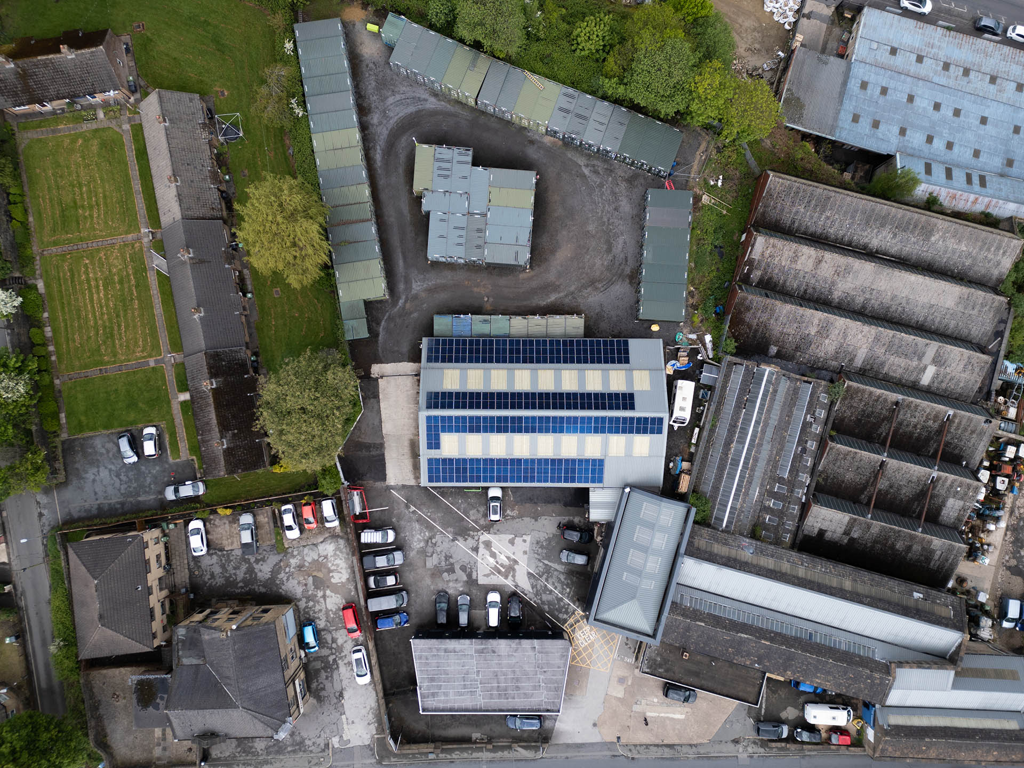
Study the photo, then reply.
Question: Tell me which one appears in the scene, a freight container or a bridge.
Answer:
freight container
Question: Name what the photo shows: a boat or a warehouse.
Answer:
warehouse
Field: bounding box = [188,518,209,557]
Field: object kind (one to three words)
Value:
car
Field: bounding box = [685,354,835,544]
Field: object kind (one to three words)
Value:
building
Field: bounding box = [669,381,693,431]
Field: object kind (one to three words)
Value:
camper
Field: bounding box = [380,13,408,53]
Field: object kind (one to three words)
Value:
shipping container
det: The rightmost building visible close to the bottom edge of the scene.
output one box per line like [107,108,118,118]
[859,648,1024,765]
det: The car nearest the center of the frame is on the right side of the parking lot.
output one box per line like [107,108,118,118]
[487,487,503,523]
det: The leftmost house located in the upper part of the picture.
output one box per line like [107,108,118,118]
[0,29,133,121]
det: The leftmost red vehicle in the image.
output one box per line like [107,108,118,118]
[300,501,319,530]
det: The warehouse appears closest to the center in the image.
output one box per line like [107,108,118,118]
[418,337,670,487]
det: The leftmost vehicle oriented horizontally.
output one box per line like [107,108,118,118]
[166,480,207,498]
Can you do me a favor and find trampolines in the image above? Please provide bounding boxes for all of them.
[224,125,241,142]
